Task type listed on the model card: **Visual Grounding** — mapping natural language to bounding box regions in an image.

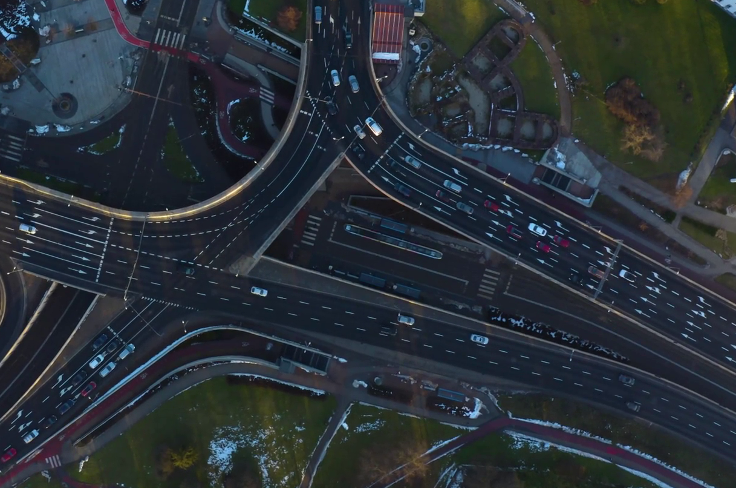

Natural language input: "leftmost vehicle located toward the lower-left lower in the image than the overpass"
[0,448,17,463]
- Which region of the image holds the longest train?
center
